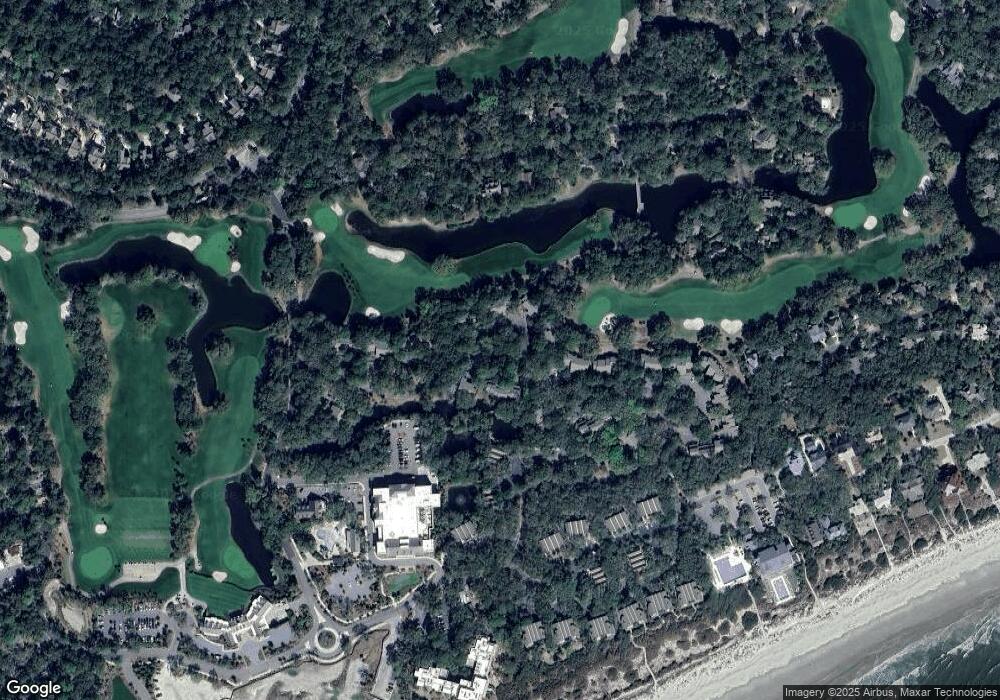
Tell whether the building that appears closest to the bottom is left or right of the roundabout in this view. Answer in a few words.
to the right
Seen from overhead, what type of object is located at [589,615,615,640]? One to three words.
house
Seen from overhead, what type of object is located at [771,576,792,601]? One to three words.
swimming pool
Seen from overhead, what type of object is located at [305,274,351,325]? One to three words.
pond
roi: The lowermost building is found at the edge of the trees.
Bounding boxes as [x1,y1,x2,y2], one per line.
[413,636,495,700]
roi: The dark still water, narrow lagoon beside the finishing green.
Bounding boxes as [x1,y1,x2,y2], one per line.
[226,481,274,587]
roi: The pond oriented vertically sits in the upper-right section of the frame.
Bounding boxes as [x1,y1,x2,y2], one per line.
[915,77,1000,266]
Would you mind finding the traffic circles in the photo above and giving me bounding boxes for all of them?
[307,620,347,660]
